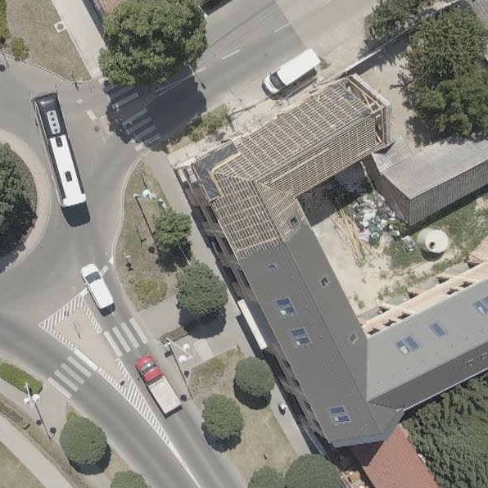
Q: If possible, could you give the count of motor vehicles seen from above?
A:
4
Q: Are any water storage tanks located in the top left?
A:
No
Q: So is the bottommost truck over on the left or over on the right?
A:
left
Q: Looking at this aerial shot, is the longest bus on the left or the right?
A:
left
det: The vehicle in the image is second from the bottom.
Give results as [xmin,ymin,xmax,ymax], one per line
[81,262,117,312]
